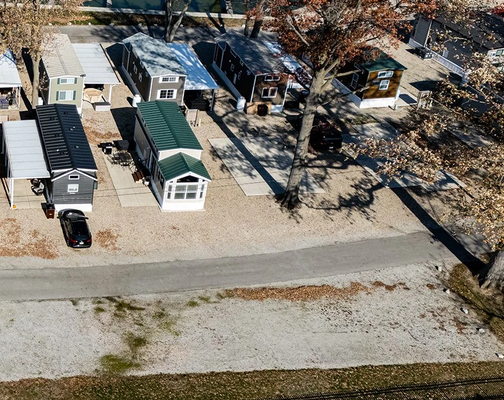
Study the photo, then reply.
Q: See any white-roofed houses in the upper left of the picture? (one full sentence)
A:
Yes, in the upper left of the picture there is a white-roofed house.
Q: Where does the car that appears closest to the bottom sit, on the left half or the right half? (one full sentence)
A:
It is on the left.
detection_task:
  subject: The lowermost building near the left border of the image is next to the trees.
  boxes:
[2,101,99,210]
